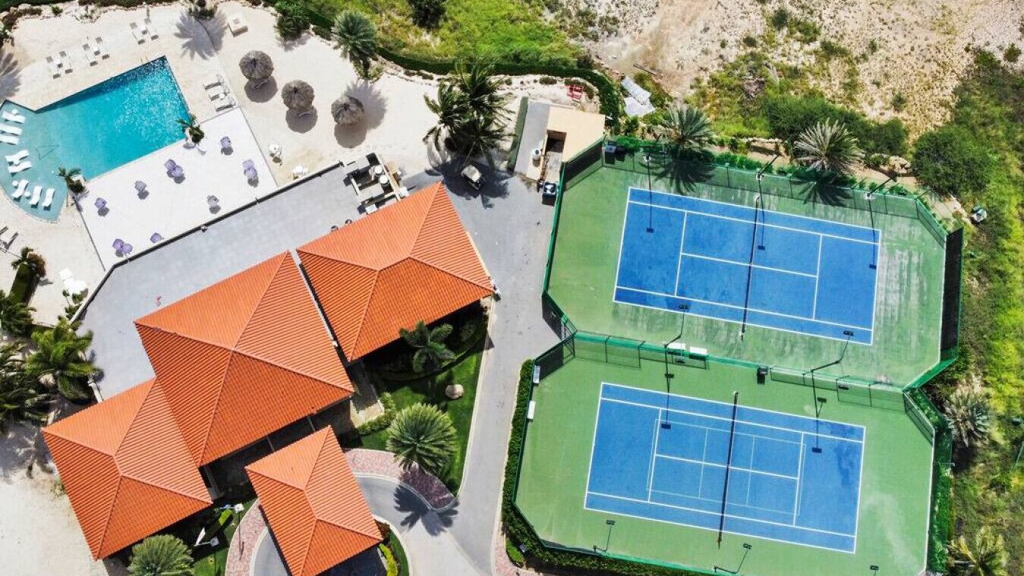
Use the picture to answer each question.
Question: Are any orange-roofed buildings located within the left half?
Yes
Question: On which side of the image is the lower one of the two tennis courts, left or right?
right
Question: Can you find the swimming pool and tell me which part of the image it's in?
top left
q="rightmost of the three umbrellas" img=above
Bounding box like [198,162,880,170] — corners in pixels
[331,101,367,135]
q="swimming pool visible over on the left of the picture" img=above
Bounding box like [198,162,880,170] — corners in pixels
[0,54,190,221]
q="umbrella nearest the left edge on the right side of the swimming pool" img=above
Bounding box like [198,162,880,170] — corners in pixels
[238,58,275,92]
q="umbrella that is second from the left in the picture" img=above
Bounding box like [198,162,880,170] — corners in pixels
[281,88,316,120]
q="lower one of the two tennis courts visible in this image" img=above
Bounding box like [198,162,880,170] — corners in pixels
[517,336,934,576]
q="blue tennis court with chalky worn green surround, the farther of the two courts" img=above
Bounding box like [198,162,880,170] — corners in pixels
[547,146,944,389]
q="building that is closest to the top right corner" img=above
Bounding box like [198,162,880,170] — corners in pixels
[537,106,605,185]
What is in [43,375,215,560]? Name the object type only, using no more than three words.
building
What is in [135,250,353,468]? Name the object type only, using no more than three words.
building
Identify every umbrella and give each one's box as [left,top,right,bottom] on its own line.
[238,58,275,92]
[281,88,316,120]
[331,101,367,135]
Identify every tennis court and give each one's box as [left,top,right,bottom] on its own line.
[547,146,944,389]
[517,336,934,576]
